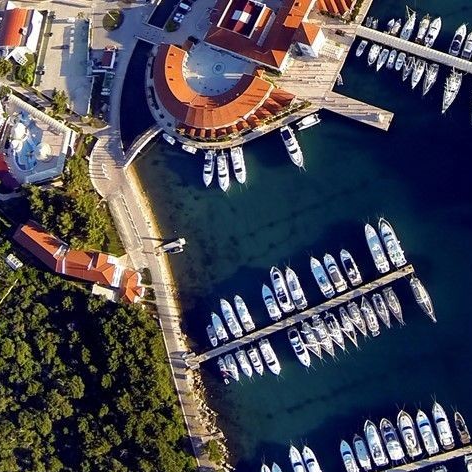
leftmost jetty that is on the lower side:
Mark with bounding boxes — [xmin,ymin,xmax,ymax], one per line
[198,264,414,362]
